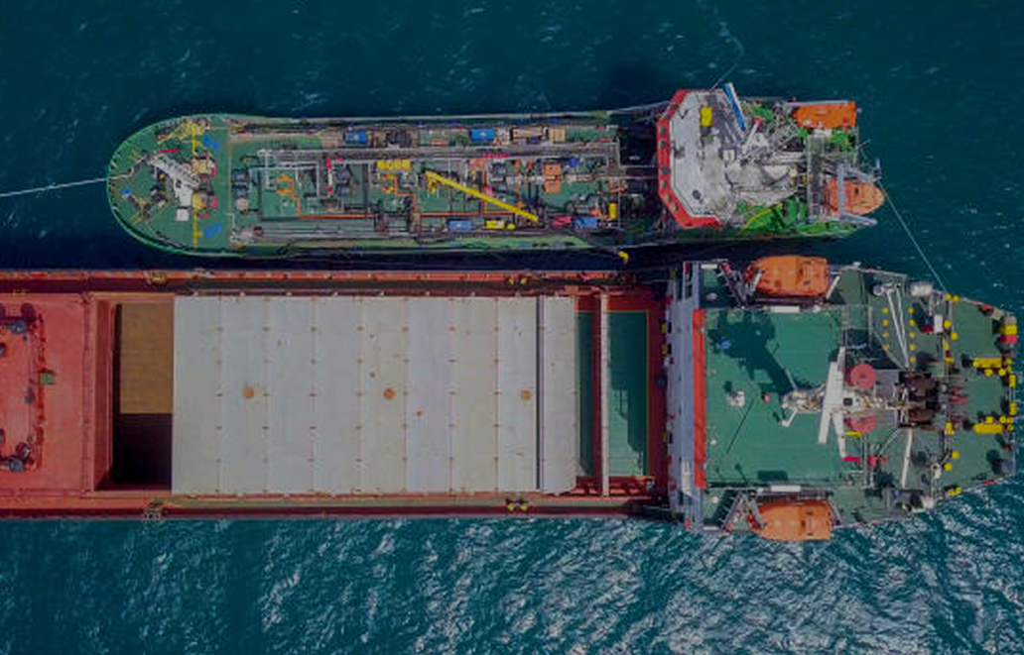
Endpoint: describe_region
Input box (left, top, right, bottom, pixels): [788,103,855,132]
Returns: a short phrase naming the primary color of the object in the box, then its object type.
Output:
orange boat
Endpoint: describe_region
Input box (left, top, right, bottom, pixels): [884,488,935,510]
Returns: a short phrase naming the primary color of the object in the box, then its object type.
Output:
gray boat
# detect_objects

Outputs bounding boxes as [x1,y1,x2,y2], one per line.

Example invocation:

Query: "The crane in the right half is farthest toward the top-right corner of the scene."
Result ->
[866,283,911,365]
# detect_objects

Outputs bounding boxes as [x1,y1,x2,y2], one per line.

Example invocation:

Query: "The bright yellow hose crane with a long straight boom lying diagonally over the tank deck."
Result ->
[423,172,538,222]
